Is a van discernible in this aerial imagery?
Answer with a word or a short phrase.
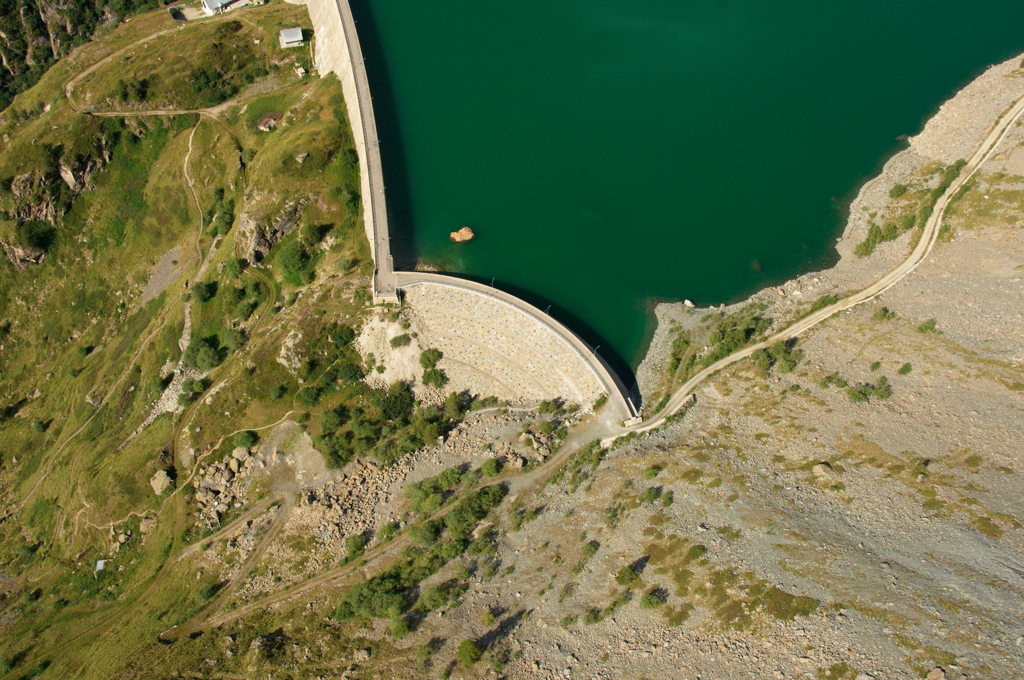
No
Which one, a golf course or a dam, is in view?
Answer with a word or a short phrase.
dam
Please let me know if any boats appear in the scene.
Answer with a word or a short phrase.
No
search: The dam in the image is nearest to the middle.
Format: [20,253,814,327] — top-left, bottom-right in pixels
[398,270,631,422]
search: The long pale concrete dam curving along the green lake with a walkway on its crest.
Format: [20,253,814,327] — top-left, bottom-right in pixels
[282,0,421,307]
